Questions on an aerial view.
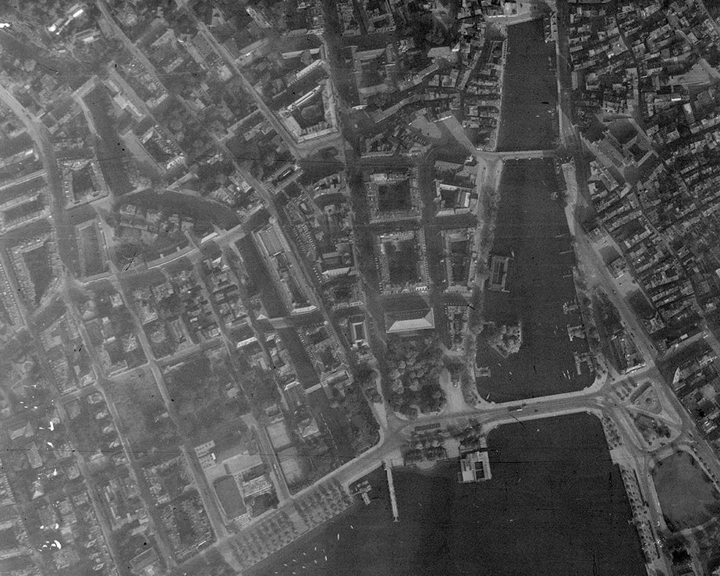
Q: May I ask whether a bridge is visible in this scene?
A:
Yes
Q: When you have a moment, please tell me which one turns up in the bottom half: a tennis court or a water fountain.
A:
tennis court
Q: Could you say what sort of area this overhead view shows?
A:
residential area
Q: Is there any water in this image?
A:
Yes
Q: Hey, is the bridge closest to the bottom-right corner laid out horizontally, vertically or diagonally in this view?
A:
horizontally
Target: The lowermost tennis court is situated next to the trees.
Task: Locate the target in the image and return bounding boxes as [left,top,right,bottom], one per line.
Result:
[278,448,302,476]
